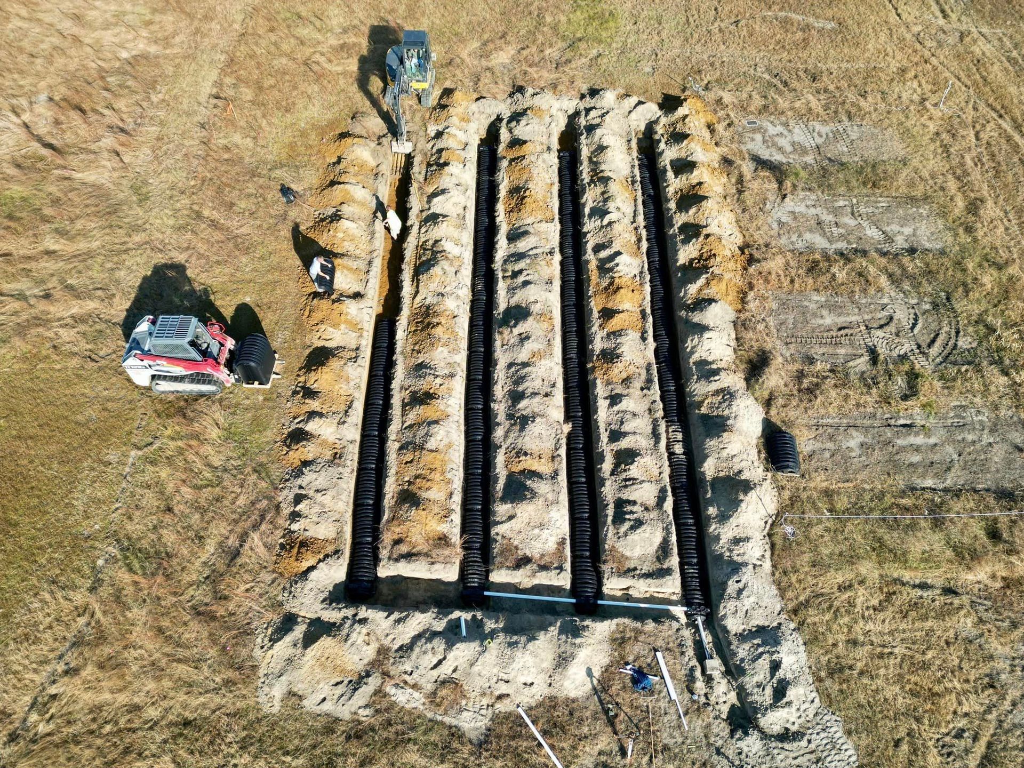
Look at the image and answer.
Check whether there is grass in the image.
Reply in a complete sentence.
Yes, grass can be seen from above here.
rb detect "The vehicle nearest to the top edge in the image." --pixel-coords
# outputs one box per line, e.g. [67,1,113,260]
[380,27,437,154]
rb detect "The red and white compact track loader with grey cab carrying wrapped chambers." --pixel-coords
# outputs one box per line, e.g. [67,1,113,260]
[121,315,241,394]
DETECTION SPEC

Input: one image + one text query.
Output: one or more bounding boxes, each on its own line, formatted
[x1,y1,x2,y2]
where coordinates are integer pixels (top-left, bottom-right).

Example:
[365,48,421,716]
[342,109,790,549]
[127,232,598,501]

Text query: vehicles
[380,27,437,154]
[121,315,241,394]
